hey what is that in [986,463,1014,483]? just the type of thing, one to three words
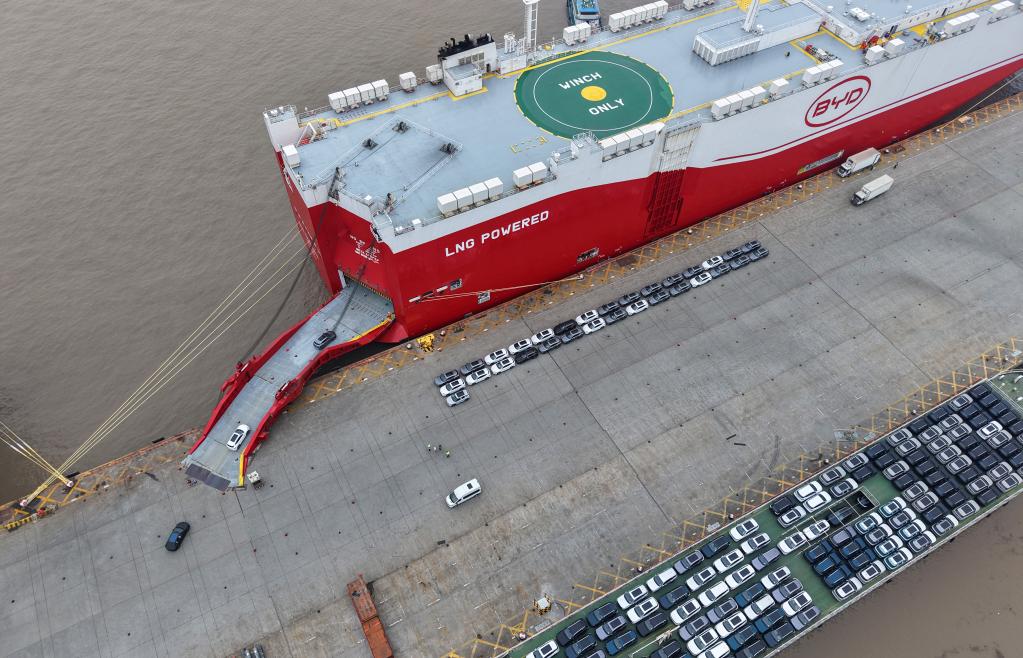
car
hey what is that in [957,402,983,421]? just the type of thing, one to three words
car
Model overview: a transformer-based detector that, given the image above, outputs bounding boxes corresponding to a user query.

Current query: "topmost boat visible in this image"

[565,0,602,35]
